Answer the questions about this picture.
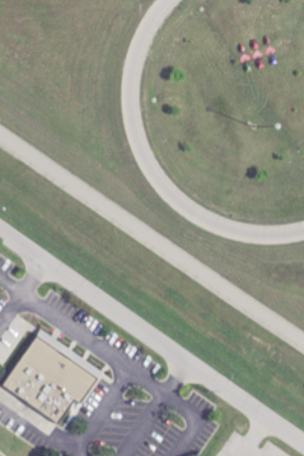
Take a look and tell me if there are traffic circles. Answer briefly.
No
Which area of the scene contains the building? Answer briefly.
bottom left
